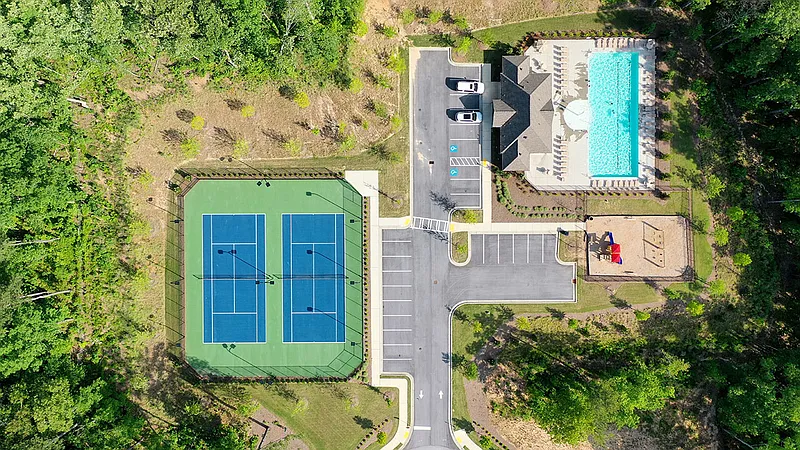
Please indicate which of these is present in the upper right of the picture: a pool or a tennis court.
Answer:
pool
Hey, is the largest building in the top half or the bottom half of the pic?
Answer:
top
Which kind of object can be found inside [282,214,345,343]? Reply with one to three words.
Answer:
tennis court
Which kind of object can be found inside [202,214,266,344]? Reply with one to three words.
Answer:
tennis court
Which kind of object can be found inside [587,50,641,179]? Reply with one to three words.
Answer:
swimming pool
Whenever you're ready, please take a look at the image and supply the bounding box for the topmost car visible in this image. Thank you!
[456,80,484,92]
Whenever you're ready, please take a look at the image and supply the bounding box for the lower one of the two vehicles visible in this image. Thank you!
[455,109,482,123]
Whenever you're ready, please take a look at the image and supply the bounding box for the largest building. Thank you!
[491,55,556,171]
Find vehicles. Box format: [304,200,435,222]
[456,80,484,92]
[455,109,482,123]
